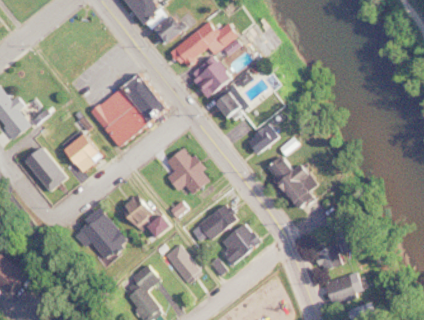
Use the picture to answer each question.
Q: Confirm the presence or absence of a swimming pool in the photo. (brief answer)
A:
Yes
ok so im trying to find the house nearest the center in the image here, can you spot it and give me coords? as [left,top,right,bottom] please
[166,148,212,194]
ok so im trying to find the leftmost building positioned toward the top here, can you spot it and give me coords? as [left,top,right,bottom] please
[0,86,32,138]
